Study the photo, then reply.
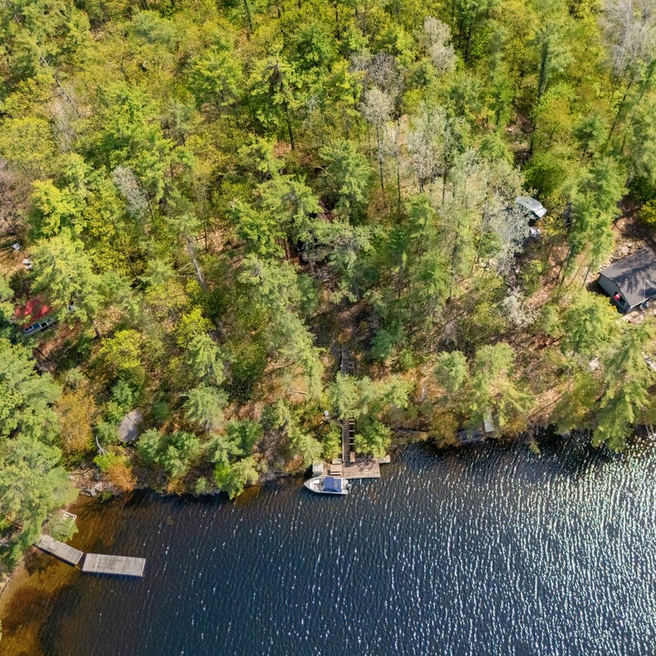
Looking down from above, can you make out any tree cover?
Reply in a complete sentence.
Yes, there's tree cover in this view.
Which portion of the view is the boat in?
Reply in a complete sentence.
Look in the bottom portion of the view to spot the boat.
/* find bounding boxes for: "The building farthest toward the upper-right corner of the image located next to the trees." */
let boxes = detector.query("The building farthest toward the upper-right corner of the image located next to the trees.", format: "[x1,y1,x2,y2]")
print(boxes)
[595,248,656,316]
